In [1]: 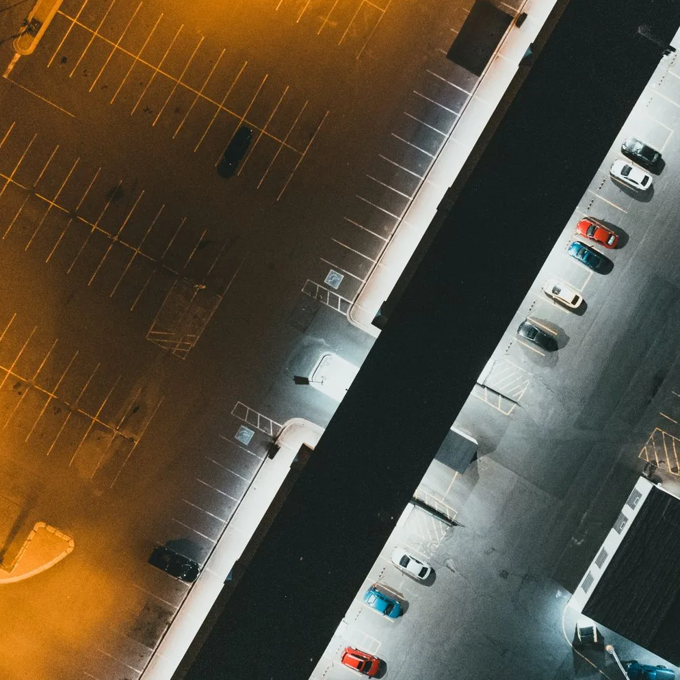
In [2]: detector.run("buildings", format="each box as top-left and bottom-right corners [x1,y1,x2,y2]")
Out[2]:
[165,0,680,680]
[574,477,680,671]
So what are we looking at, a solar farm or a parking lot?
parking lot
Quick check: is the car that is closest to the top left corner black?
Yes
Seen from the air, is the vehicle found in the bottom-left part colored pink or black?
black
